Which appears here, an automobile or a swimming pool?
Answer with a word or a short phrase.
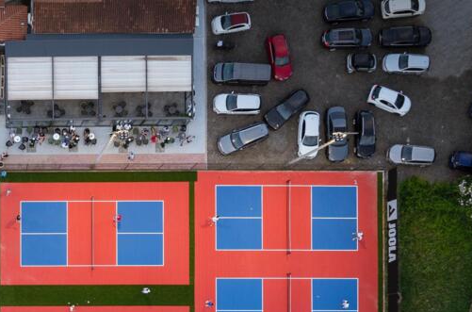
automobile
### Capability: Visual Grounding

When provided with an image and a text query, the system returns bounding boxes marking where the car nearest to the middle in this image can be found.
[214,120,269,155]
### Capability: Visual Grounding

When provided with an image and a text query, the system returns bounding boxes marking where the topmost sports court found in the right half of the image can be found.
[196,172,379,264]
